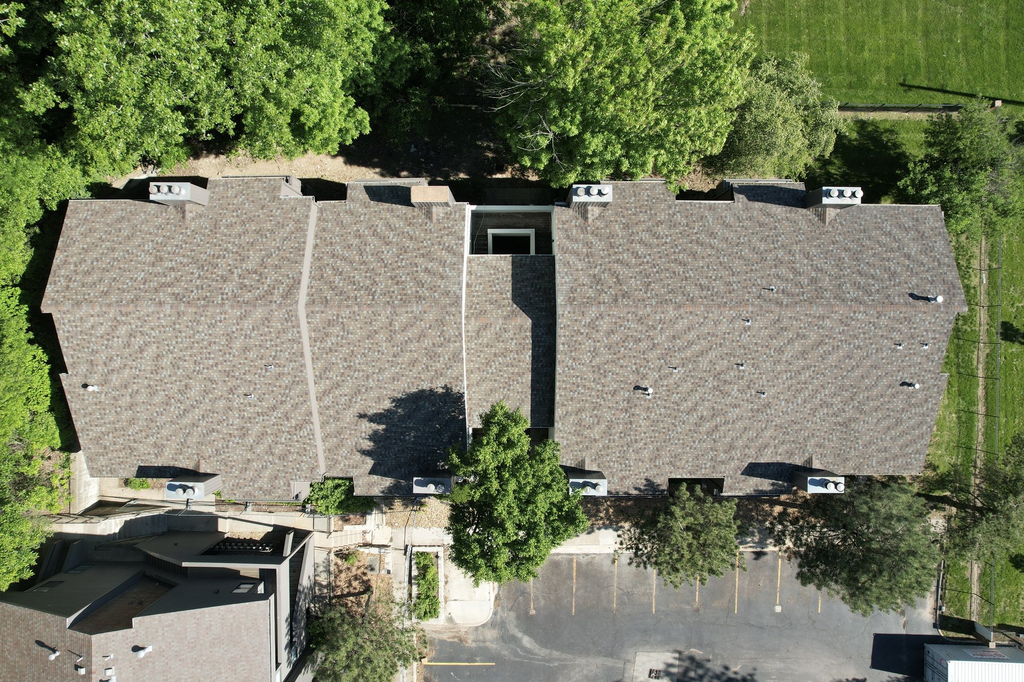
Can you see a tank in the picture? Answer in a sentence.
No, the photo shows no tank.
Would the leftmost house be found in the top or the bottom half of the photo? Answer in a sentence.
The leftmost house is in the bottom half of the image.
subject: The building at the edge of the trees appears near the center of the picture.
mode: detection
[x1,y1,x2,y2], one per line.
[42,176,967,501]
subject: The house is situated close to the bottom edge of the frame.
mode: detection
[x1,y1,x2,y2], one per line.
[0,532,342,682]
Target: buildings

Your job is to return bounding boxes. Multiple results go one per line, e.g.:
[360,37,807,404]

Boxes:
[0,532,342,682]
[42,176,967,501]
